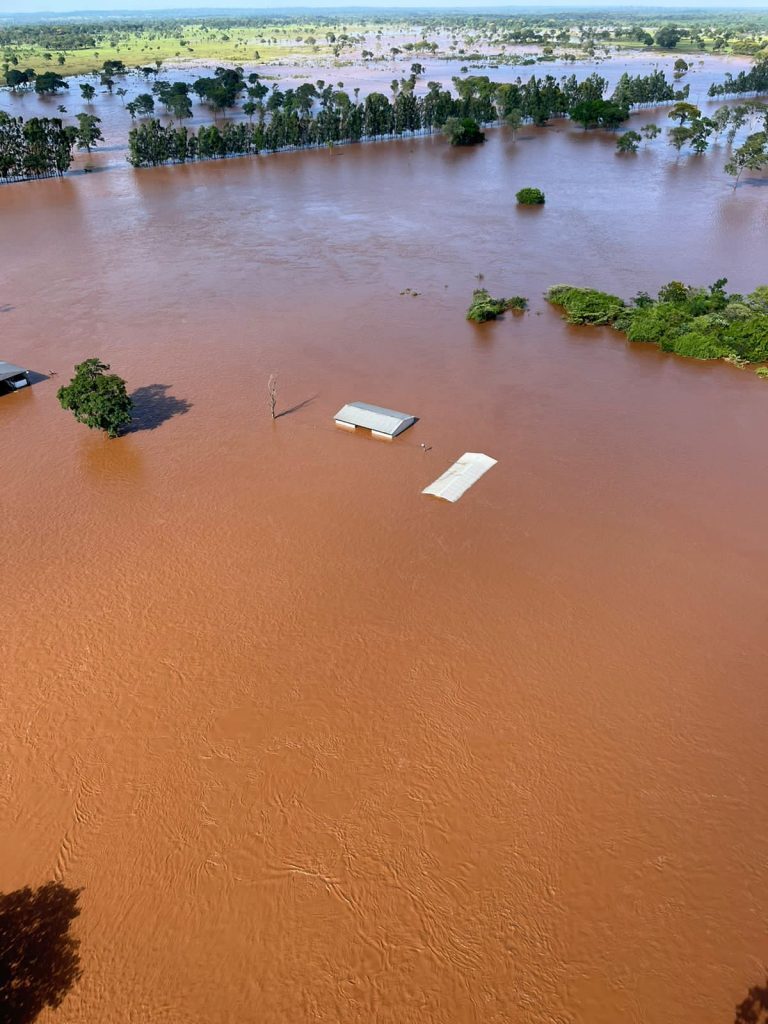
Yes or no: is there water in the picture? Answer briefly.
Yes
